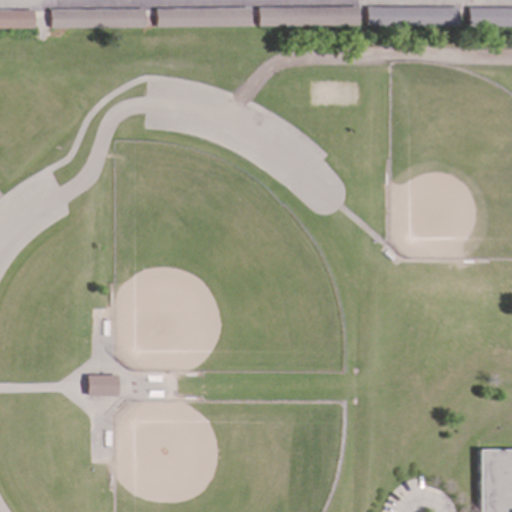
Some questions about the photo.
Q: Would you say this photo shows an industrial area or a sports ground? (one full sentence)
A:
This looks like a sports ground.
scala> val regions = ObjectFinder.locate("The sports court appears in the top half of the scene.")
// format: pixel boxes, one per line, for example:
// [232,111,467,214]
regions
[310,81,359,106]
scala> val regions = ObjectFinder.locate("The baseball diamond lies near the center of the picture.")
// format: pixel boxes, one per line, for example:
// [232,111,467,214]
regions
[112,140,346,374]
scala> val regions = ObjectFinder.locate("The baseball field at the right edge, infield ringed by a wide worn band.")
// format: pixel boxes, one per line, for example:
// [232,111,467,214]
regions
[386,62,512,262]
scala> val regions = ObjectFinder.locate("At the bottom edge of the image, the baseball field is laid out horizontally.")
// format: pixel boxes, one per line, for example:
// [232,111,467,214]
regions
[113,400,346,512]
